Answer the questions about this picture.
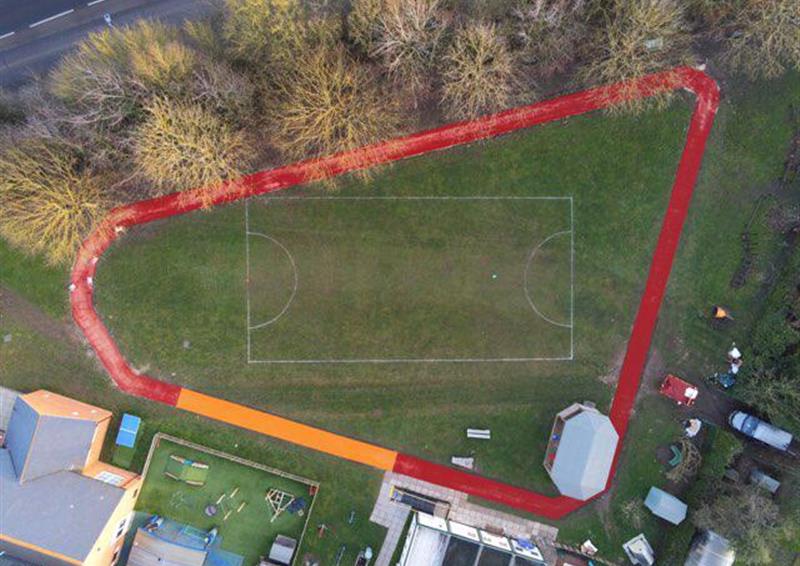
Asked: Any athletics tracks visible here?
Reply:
Yes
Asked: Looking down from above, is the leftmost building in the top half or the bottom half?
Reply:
bottom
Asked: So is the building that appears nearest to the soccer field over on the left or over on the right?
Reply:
right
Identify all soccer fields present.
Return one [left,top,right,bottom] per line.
[243,194,573,367]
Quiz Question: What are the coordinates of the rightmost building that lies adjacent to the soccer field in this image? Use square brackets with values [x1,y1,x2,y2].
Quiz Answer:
[544,406,619,500]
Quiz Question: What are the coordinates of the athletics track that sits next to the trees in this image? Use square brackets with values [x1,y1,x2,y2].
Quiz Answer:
[69,65,720,521]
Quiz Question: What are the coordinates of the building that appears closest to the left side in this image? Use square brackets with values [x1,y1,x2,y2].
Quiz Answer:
[0,389,141,566]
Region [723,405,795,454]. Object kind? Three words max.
truck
